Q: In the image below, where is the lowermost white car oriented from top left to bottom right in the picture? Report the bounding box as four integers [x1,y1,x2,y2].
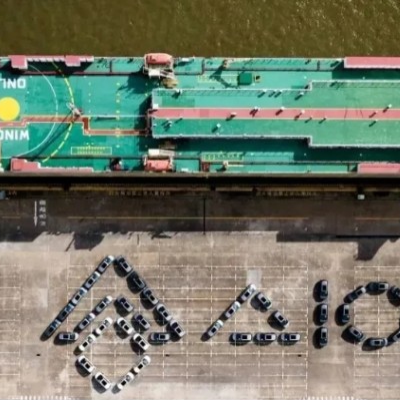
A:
[95,372,113,391]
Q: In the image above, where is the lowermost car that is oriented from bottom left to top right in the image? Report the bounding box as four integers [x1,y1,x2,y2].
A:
[115,373,134,391]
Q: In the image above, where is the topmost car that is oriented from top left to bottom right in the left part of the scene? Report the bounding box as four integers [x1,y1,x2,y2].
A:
[117,255,135,274]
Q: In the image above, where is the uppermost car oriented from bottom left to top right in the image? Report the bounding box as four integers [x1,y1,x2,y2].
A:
[95,255,113,274]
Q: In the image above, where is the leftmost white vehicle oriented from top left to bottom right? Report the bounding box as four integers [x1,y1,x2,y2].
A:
[78,355,97,374]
